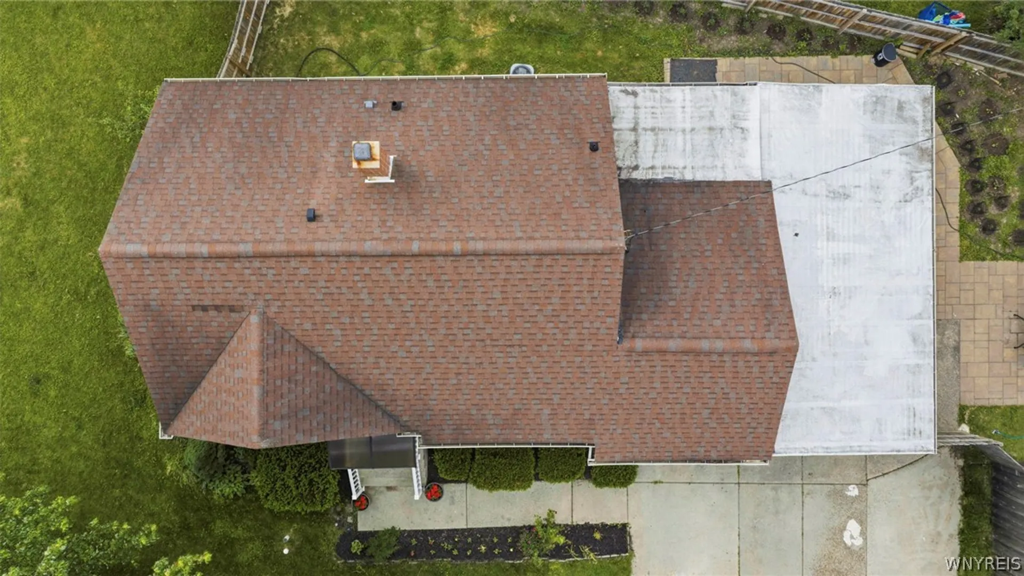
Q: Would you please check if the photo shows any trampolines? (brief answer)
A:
No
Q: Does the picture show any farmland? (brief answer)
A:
No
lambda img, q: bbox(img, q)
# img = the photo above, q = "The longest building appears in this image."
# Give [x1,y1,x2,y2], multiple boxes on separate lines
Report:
[97,75,937,468]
